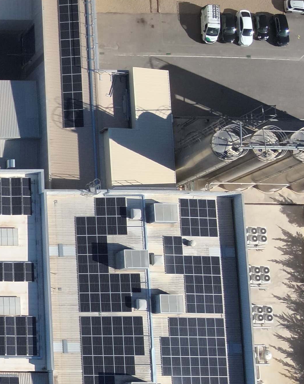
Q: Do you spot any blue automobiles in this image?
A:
No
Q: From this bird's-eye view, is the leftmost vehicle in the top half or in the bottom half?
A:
top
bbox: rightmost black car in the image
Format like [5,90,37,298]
[270,13,293,48]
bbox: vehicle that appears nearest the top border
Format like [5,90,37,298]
[285,0,304,15]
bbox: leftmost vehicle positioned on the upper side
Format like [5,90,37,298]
[199,3,223,45]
